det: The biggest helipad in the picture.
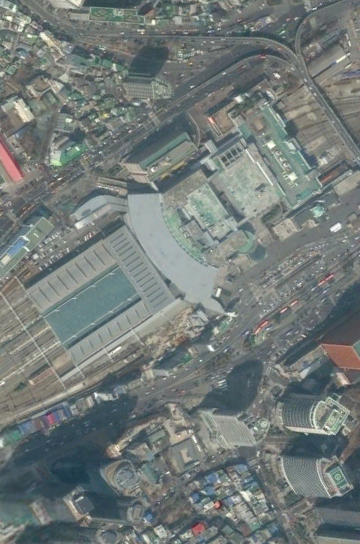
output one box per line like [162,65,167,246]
[329,467,347,486]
